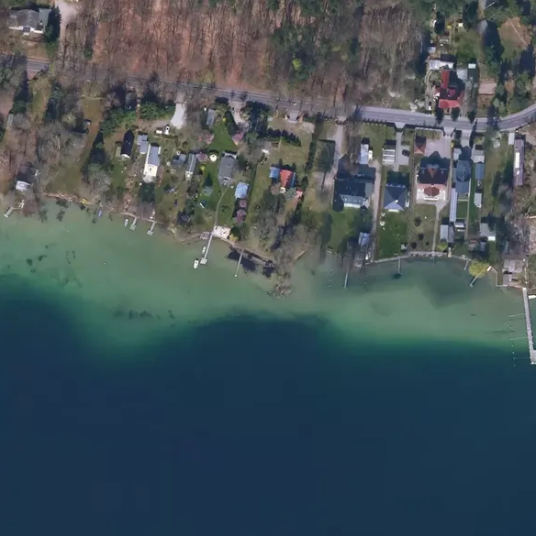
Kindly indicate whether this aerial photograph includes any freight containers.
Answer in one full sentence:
No, there isn't any freight container down there.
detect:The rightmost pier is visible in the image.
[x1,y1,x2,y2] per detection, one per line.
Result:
[523,287,536,364]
